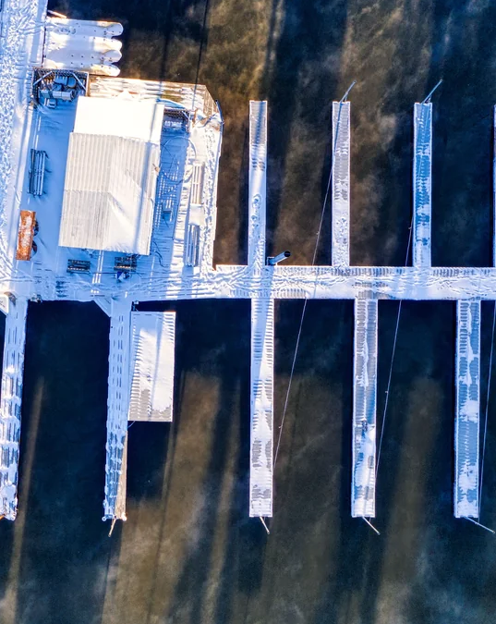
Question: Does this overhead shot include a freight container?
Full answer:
No, the frame has no freight container in it.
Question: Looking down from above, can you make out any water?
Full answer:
Yes, there's water in this view.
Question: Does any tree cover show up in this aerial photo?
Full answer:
No, the picture contains no tree cover.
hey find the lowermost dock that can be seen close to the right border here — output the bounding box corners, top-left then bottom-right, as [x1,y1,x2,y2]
[453,300,481,518]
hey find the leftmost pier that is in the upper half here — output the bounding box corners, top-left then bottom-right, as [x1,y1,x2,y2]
[249,101,267,266]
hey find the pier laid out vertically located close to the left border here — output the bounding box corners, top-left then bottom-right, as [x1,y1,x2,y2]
[0,300,29,520]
